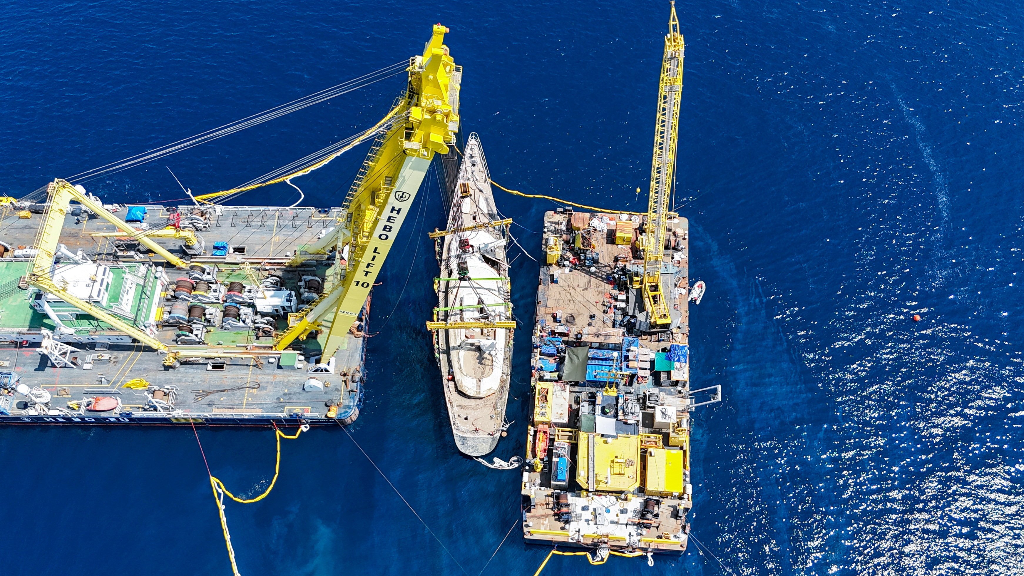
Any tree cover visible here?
No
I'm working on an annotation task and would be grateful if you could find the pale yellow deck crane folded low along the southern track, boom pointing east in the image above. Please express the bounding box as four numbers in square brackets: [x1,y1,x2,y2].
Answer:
[156,349,264,369]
